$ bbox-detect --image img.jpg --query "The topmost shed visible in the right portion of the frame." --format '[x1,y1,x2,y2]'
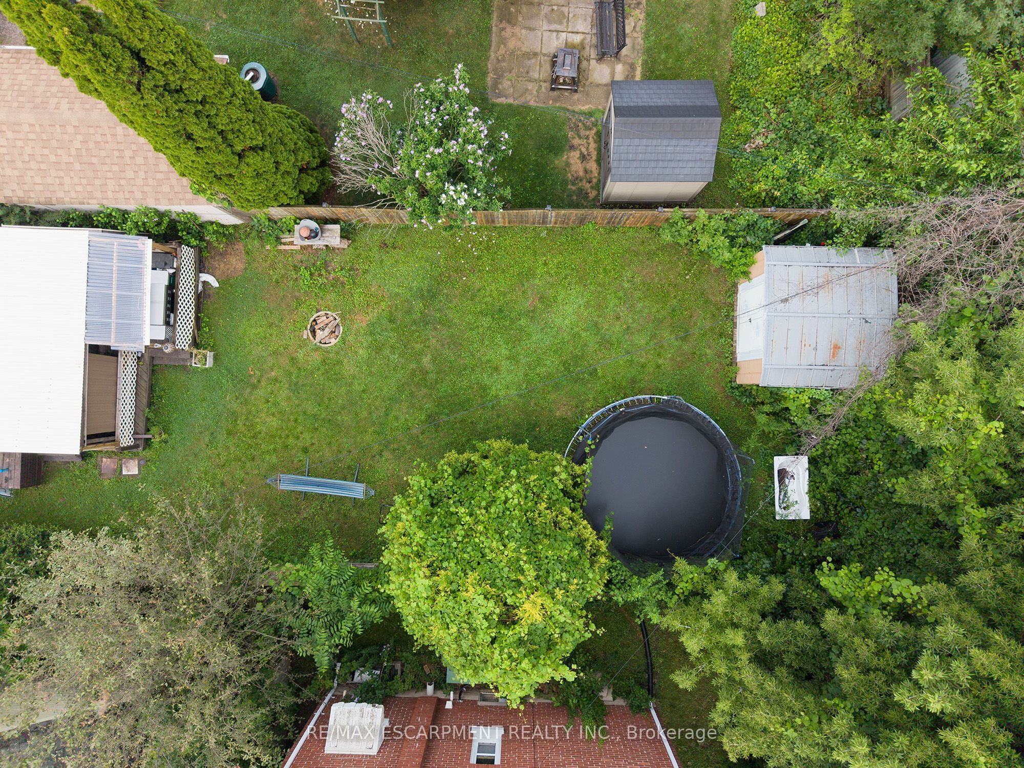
[599,79,724,204]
